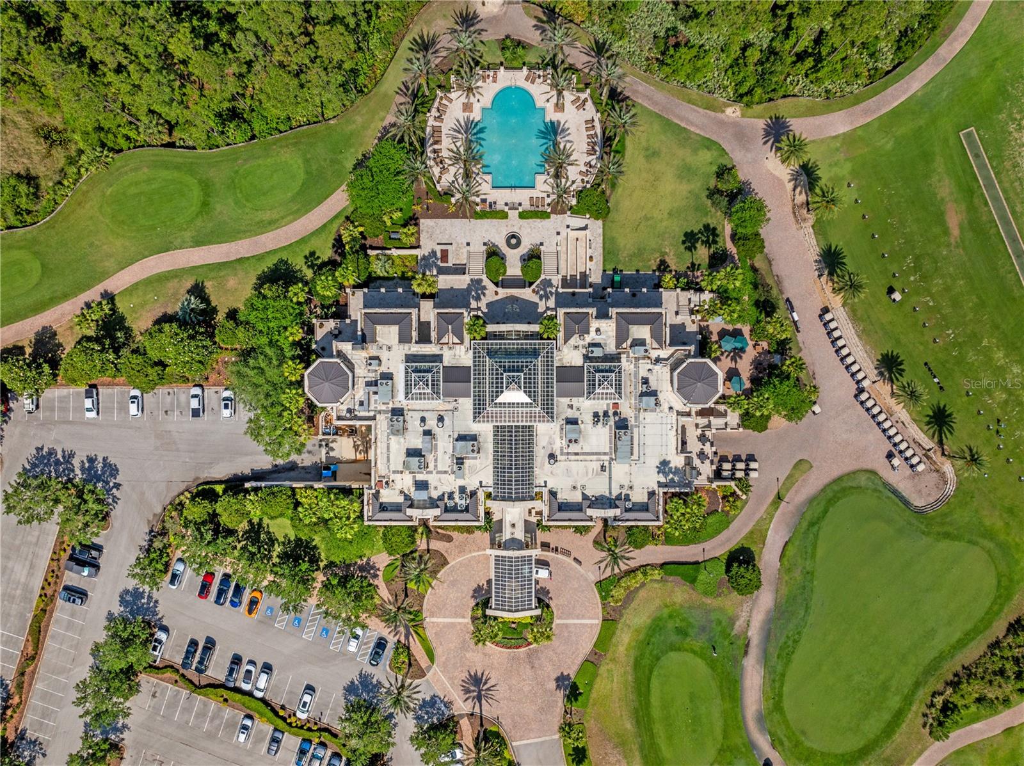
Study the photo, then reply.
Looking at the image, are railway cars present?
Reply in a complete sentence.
No, there is no railway car in the image.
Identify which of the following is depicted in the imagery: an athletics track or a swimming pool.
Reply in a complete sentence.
There is a swimming pool in the scene.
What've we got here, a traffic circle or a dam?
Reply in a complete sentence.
Visible in the photo is a traffic circle.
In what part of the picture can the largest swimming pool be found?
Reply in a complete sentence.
The largest swimming pool is located in the top region of the scene.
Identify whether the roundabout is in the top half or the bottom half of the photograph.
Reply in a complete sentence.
You can find the roundabout in the bottom half.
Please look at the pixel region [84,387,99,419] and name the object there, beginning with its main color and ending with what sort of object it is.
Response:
white vehicle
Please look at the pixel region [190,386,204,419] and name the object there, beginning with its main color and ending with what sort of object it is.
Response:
white vehicle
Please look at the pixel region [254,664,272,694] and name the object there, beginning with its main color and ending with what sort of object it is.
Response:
white car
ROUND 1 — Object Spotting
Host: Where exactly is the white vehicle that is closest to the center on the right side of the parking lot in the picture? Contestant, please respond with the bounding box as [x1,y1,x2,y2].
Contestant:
[538,565,555,577]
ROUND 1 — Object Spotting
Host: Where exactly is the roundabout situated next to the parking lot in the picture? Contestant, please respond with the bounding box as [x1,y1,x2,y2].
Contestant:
[423,550,603,747]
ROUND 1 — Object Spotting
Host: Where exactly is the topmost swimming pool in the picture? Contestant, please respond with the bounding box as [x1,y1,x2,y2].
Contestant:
[424,66,603,211]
